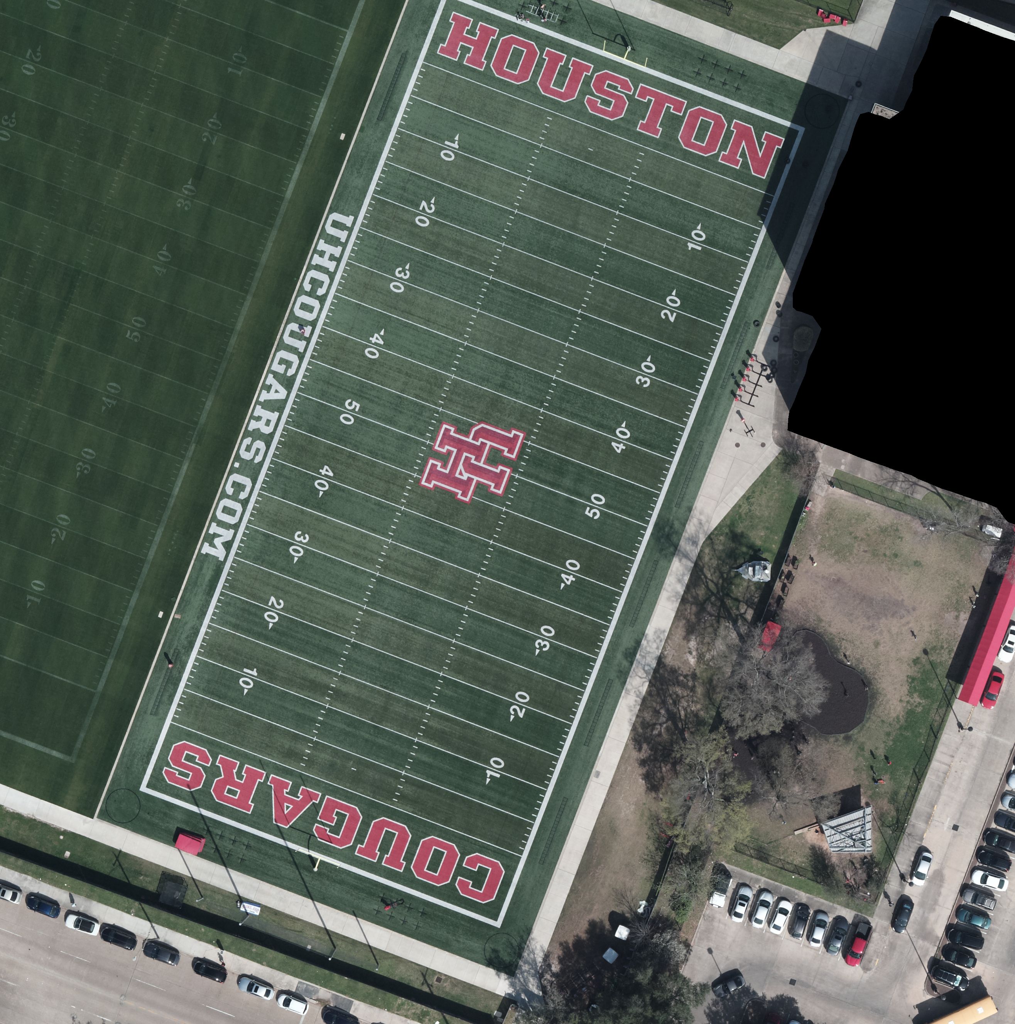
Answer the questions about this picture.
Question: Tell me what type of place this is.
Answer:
sports ground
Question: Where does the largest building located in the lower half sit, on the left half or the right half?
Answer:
right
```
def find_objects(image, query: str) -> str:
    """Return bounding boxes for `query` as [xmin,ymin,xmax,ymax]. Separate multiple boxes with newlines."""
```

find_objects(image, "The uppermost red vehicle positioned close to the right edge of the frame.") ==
[983,671,1005,710]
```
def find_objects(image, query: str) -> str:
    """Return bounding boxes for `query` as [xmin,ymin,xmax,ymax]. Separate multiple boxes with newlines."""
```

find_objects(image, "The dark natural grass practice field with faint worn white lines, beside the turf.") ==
[0,0,405,816]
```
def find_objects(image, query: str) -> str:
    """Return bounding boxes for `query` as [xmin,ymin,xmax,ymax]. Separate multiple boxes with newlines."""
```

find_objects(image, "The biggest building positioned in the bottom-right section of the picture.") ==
[821,805,873,853]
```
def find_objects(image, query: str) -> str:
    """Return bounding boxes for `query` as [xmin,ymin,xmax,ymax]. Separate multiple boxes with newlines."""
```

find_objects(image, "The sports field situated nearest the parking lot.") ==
[96,0,850,977]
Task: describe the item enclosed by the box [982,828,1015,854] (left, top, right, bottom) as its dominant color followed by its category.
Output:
black truck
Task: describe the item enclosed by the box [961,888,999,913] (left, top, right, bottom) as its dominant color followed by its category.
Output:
gray truck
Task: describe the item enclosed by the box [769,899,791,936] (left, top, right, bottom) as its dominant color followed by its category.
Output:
white car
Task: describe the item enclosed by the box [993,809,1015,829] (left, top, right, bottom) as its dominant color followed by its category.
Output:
black car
